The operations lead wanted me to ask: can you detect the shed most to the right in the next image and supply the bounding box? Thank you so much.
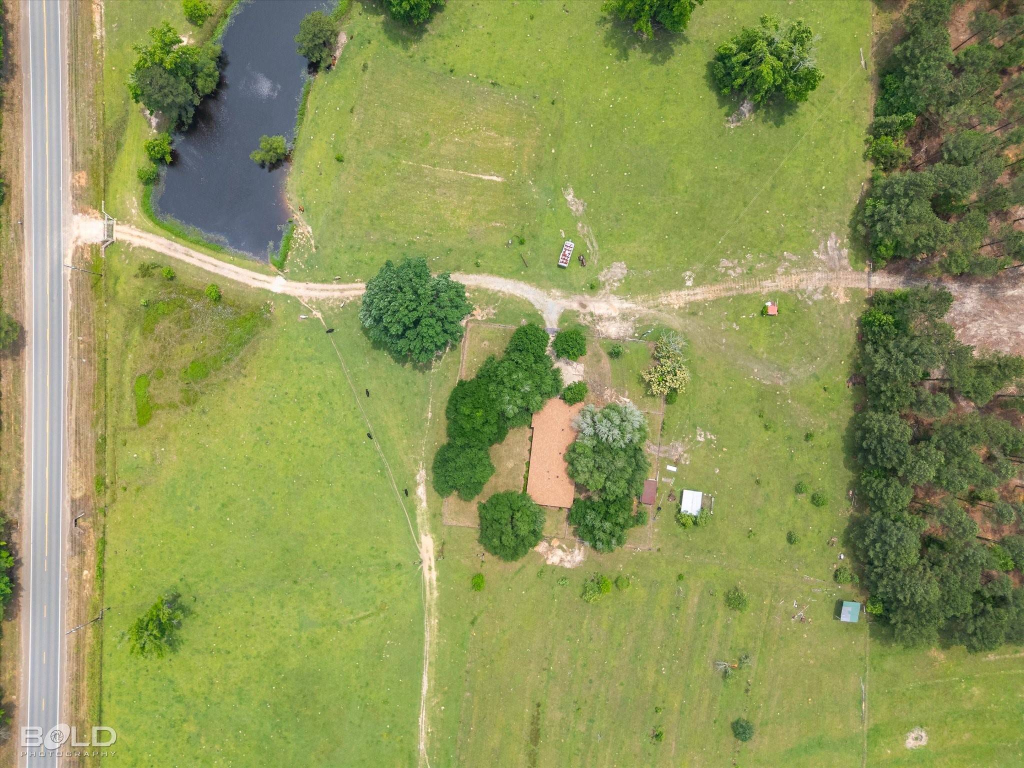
[830,597,860,622]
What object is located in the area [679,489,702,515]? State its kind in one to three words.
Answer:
shed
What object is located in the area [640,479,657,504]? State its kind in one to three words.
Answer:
shed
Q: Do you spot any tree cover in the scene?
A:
Yes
